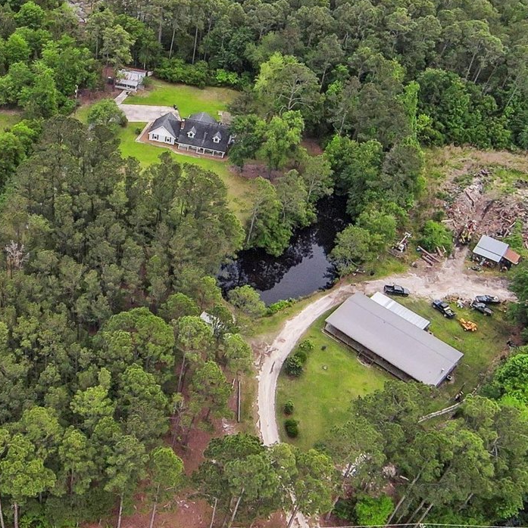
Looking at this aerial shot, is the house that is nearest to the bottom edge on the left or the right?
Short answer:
right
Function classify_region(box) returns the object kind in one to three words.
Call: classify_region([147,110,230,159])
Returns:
house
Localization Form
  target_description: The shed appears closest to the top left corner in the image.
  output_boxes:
[114,65,148,94]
